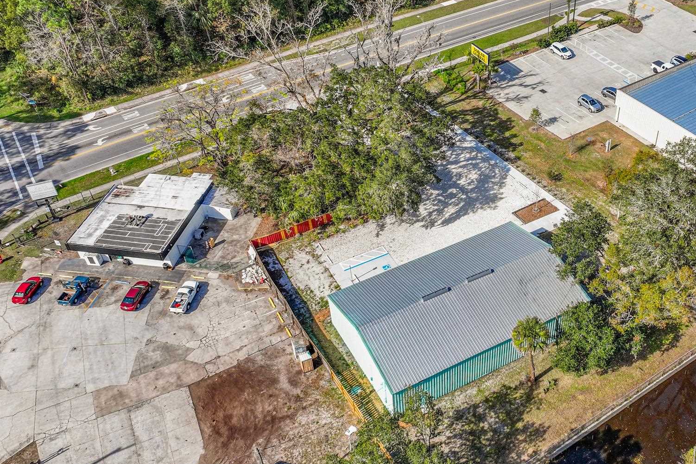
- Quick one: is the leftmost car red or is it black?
red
